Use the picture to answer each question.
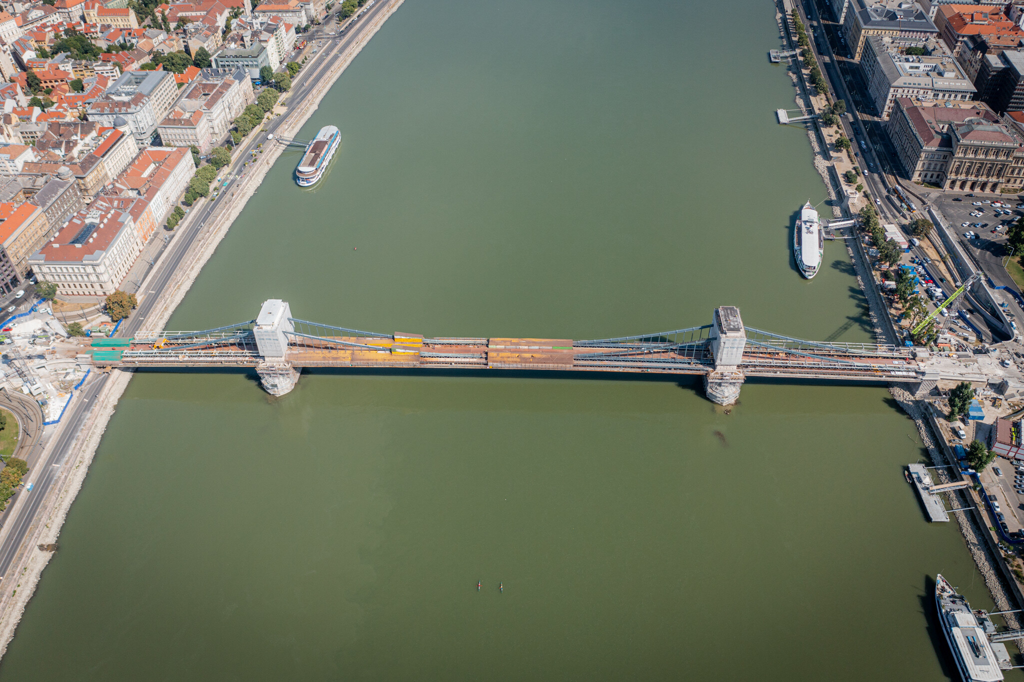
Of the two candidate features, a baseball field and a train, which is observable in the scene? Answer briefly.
train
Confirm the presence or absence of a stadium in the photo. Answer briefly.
No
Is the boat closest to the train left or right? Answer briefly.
right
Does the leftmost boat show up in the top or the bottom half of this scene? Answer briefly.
top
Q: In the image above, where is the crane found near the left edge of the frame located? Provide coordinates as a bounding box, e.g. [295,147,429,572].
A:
[0,329,52,395]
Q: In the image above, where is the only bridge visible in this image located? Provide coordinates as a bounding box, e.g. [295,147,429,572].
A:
[90,298,928,410]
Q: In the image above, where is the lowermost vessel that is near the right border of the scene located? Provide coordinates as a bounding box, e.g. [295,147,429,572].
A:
[933,569,1005,682]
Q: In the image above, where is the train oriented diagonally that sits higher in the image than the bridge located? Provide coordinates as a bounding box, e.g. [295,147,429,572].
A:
[893,185,919,212]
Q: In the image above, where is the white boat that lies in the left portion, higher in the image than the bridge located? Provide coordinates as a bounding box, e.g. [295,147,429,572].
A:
[297,124,342,188]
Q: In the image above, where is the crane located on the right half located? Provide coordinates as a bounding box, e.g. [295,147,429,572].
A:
[912,272,985,345]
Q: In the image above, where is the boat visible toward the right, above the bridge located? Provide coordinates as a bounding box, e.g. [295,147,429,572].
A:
[794,200,824,282]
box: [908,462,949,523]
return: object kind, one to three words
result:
pier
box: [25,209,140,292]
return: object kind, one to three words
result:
building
